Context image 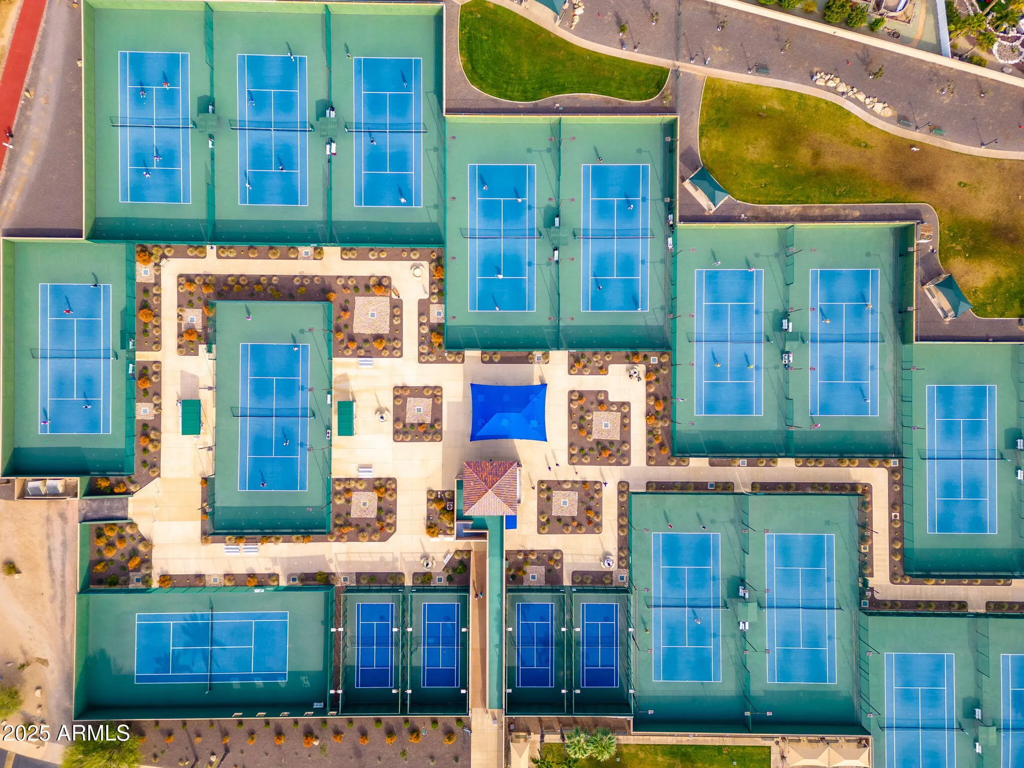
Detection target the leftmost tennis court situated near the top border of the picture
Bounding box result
[94,9,214,245]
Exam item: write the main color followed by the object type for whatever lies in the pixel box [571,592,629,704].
blue tennis court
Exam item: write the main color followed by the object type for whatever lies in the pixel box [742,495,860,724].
blue tennis court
